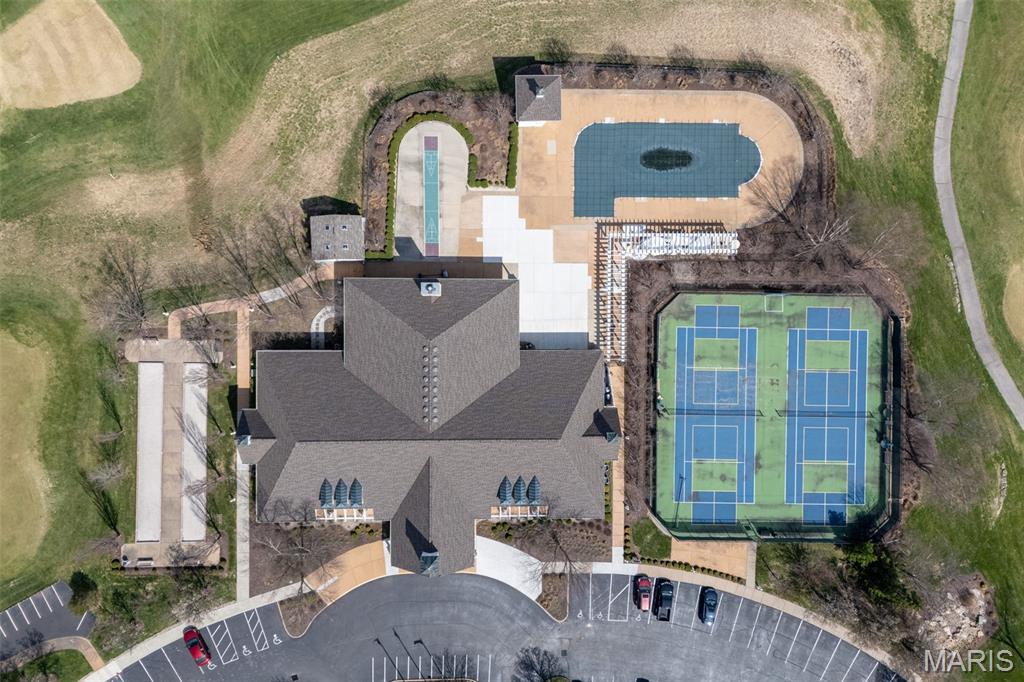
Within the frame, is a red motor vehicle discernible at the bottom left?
Yes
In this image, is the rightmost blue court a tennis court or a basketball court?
tennis court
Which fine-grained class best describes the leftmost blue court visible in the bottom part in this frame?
tennis court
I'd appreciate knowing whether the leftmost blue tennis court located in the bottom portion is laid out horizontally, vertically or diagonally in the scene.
vertically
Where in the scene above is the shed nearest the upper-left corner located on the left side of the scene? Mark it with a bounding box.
[311,214,366,262]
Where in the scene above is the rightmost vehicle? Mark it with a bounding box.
[699,587,719,625]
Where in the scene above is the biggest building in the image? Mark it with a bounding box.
[236,278,620,578]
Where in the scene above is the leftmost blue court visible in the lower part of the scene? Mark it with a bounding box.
[668,306,765,525]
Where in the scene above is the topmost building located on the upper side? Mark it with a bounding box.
[515,74,562,127]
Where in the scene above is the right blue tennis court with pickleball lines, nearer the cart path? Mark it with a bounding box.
[780,308,878,526]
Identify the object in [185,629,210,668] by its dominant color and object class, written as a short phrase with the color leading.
red car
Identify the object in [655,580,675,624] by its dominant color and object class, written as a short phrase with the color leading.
black vehicle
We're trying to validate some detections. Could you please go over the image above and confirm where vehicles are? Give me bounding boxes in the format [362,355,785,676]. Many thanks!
[655,580,675,624]
[185,629,210,668]
[699,587,719,625]
[635,577,653,612]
